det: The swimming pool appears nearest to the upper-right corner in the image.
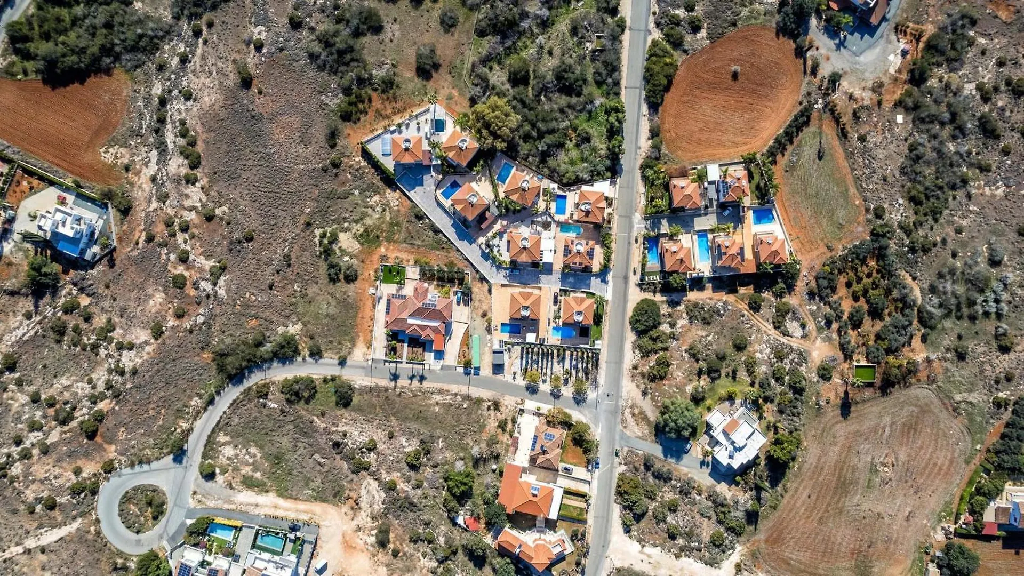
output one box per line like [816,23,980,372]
[751,207,777,226]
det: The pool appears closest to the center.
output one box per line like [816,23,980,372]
[500,323,521,335]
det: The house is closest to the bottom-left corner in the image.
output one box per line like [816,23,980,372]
[174,541,211,576]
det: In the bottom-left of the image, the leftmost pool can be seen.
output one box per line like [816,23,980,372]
[206,524,236,542]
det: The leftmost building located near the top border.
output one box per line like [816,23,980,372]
[827,0,890,29]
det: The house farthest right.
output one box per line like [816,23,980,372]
[978,488,1024,535]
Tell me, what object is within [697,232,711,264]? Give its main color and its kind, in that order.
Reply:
blue swimming pool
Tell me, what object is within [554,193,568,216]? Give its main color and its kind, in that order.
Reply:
blue swimming pool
